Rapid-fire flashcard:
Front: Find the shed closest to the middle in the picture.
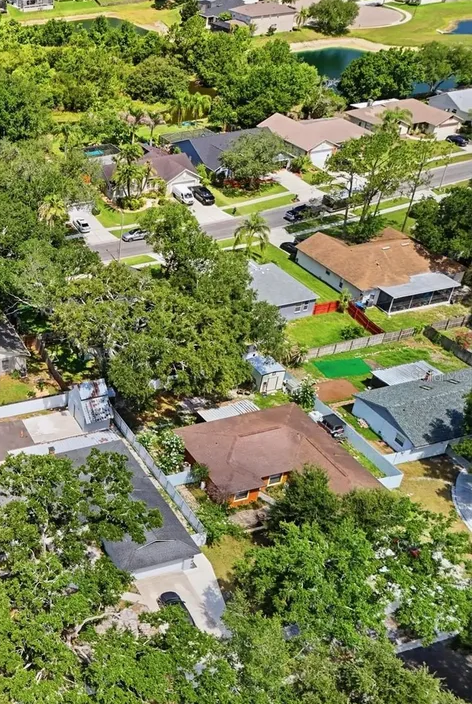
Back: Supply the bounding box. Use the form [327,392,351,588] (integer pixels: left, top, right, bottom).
[244,352,285,392]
